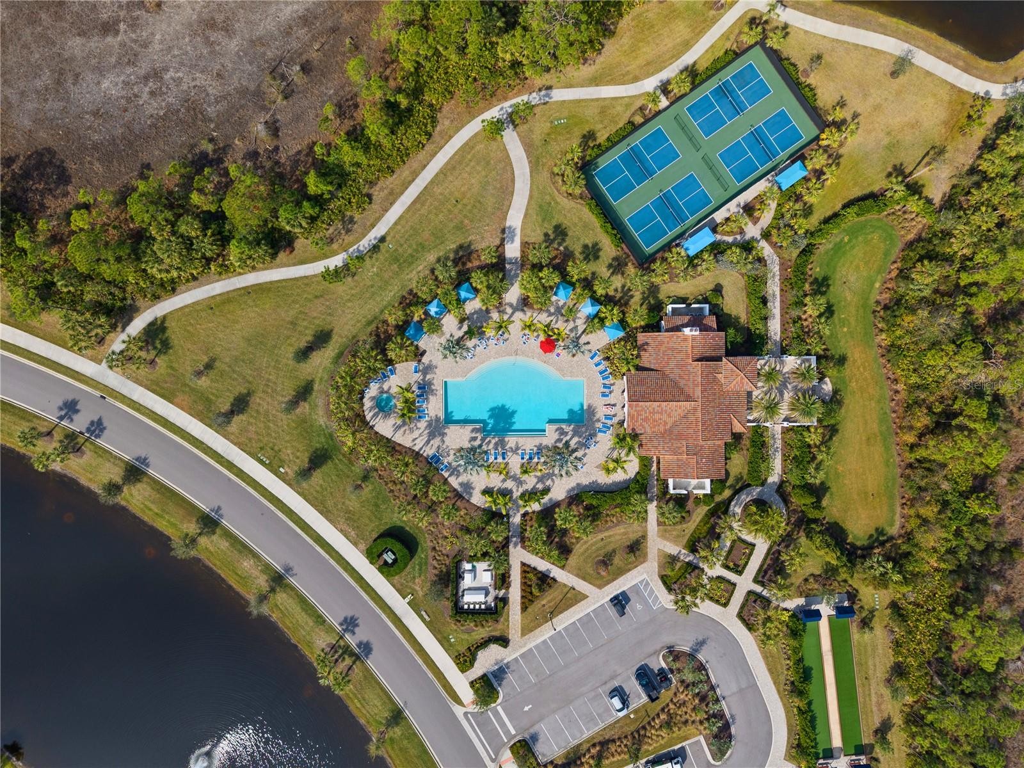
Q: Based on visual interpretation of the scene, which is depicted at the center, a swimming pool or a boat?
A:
swimming pool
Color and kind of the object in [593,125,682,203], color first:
blue sports court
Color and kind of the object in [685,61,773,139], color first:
blue sports court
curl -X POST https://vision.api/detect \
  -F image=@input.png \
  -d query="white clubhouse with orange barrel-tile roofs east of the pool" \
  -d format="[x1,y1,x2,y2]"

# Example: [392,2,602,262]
[621,316,758,479]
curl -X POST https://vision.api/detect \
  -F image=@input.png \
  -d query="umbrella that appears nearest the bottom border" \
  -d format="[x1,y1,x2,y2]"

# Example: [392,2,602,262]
[540,338,555,353]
